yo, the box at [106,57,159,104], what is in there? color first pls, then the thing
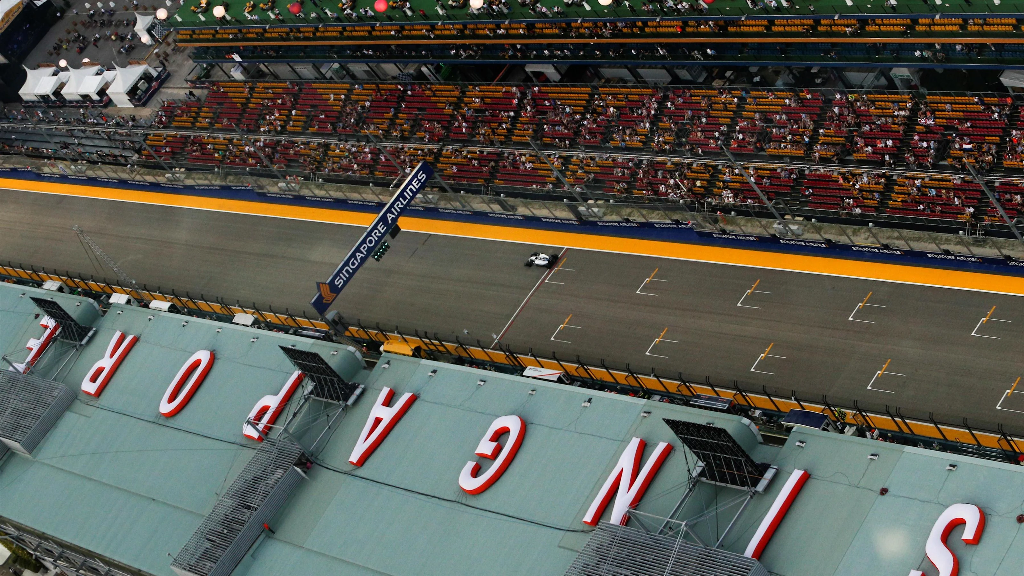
white tent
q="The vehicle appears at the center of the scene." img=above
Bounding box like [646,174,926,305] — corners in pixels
[522,250,557,269]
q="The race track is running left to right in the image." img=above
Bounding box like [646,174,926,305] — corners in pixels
[0,170,1024,457]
